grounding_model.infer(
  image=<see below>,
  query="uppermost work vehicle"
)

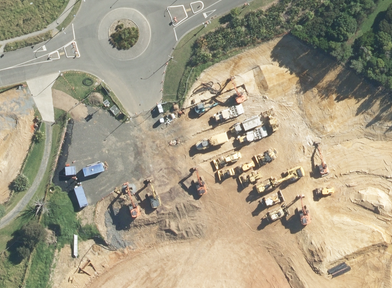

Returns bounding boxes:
[230,76,250,106]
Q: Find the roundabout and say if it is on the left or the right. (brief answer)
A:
left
